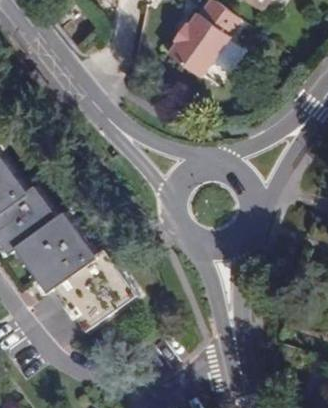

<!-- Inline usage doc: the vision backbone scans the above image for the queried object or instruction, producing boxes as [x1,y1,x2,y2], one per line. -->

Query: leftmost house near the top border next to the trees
[168,0,248,79]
